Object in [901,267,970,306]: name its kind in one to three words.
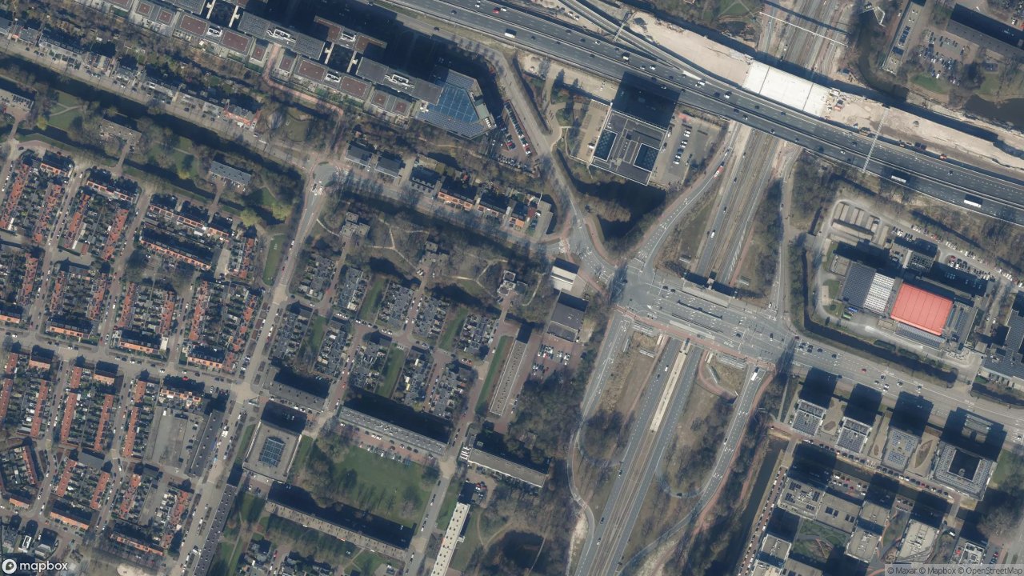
building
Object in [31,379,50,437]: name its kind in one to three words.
building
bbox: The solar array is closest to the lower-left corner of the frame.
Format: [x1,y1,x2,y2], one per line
[260,437,285,465]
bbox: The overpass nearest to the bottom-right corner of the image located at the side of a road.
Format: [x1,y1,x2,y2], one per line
[655,275,740,354]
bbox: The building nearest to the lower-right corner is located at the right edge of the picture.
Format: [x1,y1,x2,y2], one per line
[947,538,986,573]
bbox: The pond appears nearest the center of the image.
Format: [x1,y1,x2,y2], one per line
[555,149,666,241]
